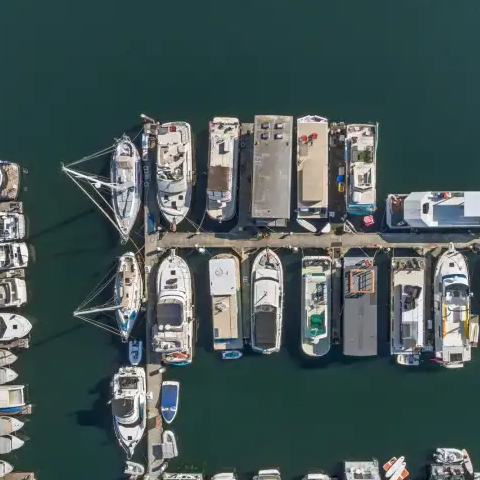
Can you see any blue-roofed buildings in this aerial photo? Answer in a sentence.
No, no blue-roofed building can be seen from above.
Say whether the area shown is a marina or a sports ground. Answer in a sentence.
The area seen from above is a marina.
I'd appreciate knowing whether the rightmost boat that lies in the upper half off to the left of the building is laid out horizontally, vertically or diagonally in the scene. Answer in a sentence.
The rightmost boat that lies in the upper half off to the left of the building is laid out vertically.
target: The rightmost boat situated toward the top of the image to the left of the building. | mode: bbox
[199,117,242,233]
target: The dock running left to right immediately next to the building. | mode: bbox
[157,233,480,247]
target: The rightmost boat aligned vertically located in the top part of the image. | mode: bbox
[345,122,380,233]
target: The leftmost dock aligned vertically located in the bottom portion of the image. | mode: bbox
[145,232,163,480]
